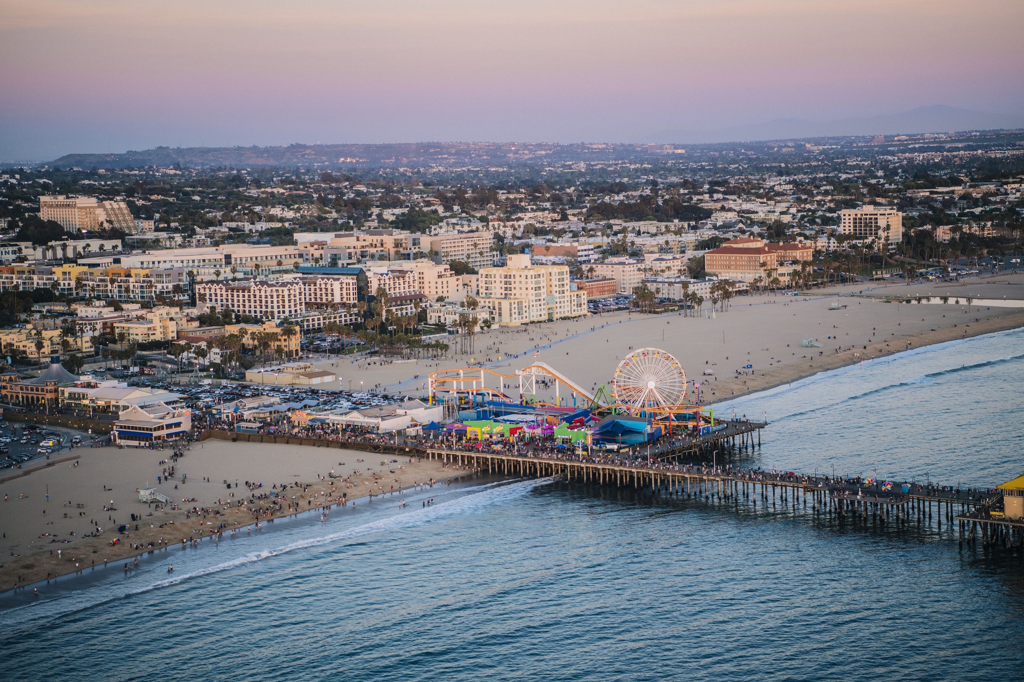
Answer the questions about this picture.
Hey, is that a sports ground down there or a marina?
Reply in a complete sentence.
This image shows a marina.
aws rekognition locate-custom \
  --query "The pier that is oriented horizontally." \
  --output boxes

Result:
[0,371,1024,543]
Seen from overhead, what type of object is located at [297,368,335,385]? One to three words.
building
